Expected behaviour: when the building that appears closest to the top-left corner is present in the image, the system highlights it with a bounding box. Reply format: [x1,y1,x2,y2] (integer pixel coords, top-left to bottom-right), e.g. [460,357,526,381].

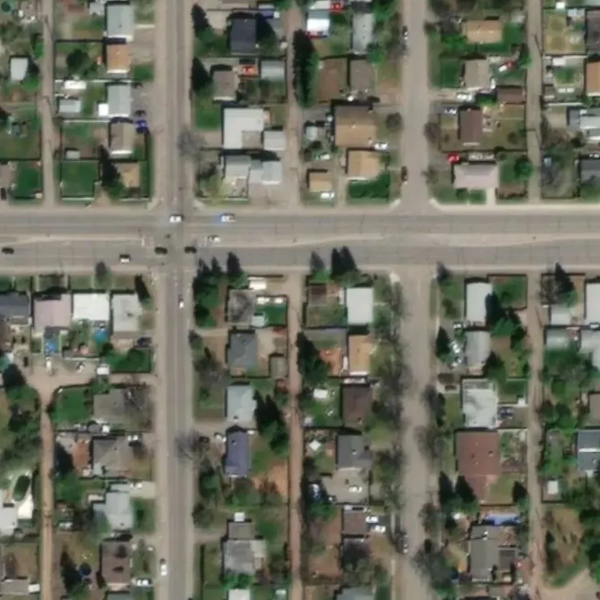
[10,58,27,82]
